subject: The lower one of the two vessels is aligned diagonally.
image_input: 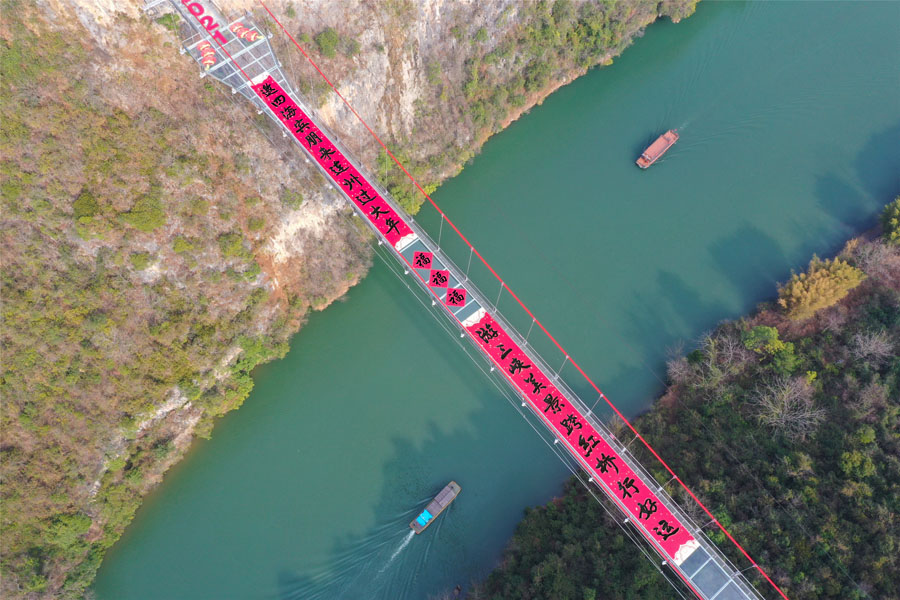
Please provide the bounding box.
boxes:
[410,481,461,534]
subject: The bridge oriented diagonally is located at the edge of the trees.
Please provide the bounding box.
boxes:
[170,0,788,600]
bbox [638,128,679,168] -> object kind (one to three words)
vessel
